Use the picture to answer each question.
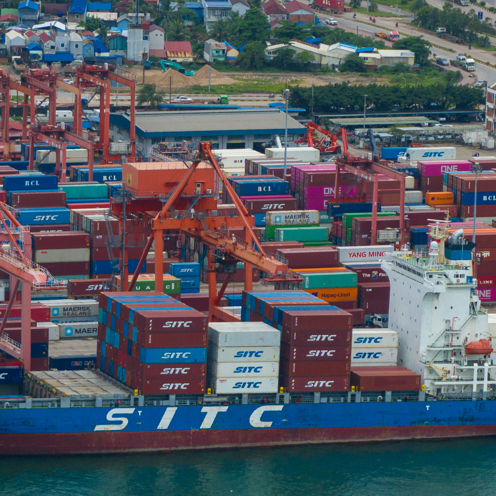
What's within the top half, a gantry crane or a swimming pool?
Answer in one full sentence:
The feature located within the top half is a gantry crane.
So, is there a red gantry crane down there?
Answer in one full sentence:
Yes, a red gantry crane is visible in the scene.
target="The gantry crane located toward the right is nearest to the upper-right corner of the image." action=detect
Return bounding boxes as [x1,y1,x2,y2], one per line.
[331,144,411,245]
